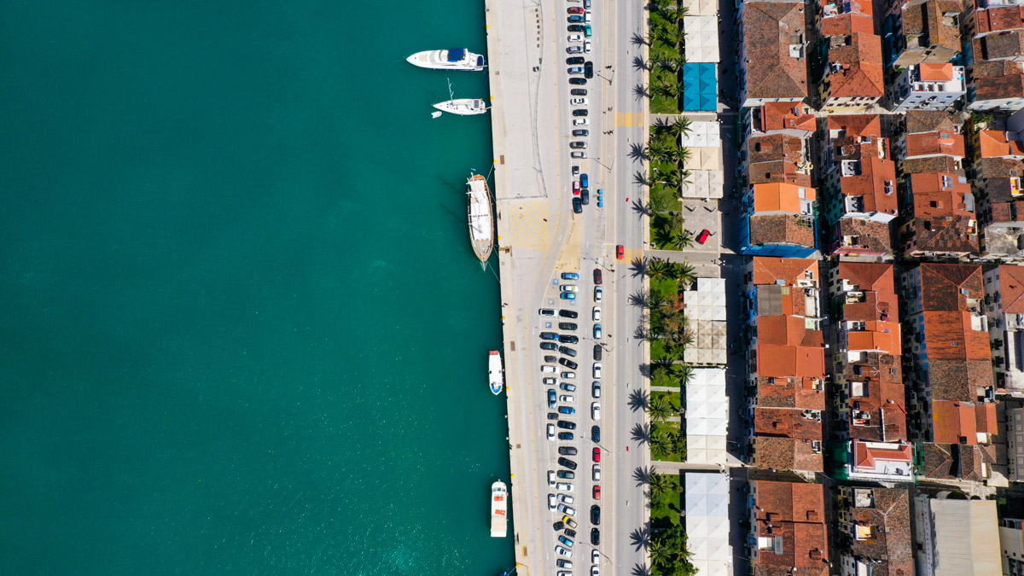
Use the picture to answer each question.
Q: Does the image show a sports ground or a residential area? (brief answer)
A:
residential area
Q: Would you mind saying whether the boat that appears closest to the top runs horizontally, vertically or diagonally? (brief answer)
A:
horizontally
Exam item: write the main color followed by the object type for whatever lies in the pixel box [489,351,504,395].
white boat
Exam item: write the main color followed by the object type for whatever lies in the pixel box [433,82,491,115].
white boat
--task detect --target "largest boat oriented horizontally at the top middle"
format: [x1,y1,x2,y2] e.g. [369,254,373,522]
[408,50,488,71]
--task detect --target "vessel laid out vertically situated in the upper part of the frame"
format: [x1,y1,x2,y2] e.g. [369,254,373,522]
[468,169,494,272]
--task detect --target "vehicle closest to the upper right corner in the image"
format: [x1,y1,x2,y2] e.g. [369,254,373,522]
[696,228,709,245]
